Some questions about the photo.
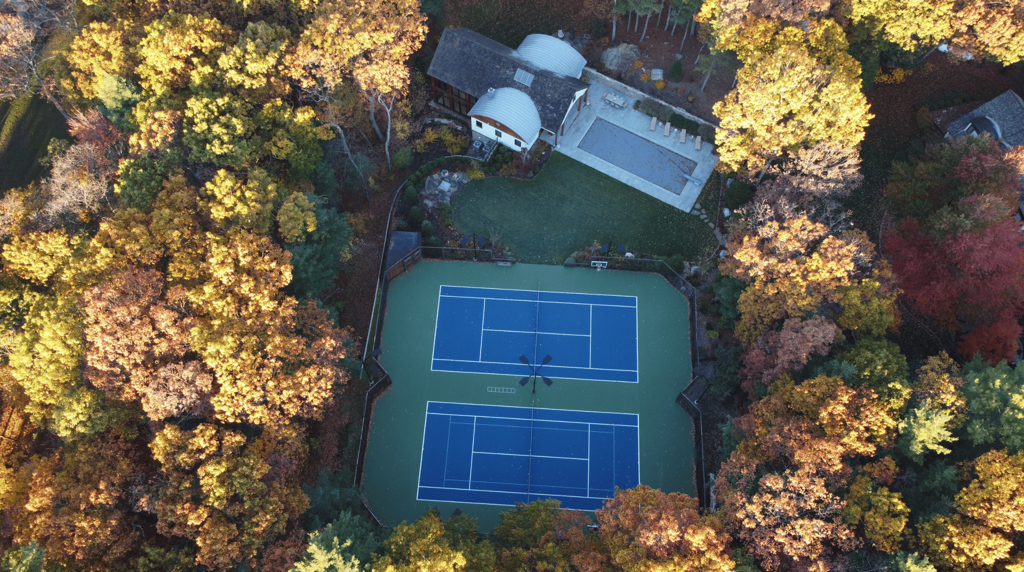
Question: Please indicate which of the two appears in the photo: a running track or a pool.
pool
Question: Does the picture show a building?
Yes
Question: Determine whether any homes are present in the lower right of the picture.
No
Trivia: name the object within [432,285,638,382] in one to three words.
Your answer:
tennis court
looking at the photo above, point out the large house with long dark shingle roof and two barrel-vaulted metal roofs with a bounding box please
[427,27,591,156]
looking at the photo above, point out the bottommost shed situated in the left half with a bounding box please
[385,231,420,280]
